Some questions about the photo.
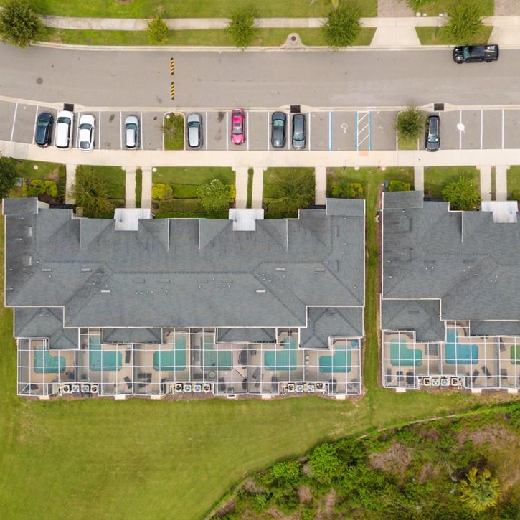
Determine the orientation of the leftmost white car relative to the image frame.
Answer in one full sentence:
The leftmost white car has been laid out up and down relative to the frame.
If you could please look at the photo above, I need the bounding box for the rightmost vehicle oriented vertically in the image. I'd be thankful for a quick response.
[426,113,444,151]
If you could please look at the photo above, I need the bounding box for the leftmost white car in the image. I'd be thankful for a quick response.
[53,109,73,149]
